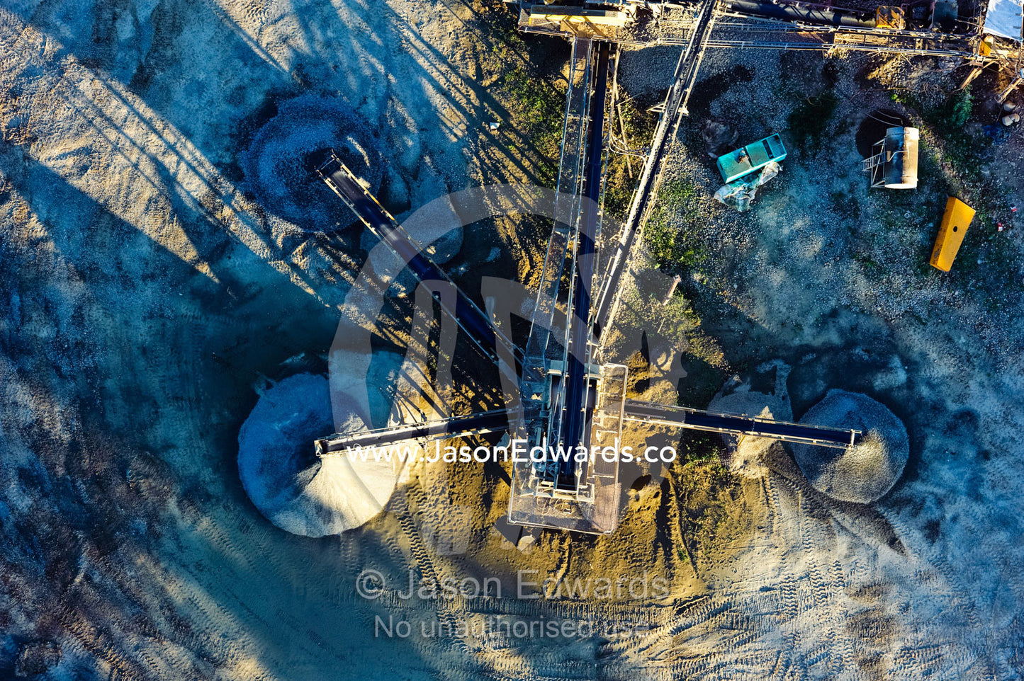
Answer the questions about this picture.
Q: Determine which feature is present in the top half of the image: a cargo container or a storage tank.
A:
storage tank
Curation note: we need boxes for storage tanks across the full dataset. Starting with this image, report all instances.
[855,123,920,193]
